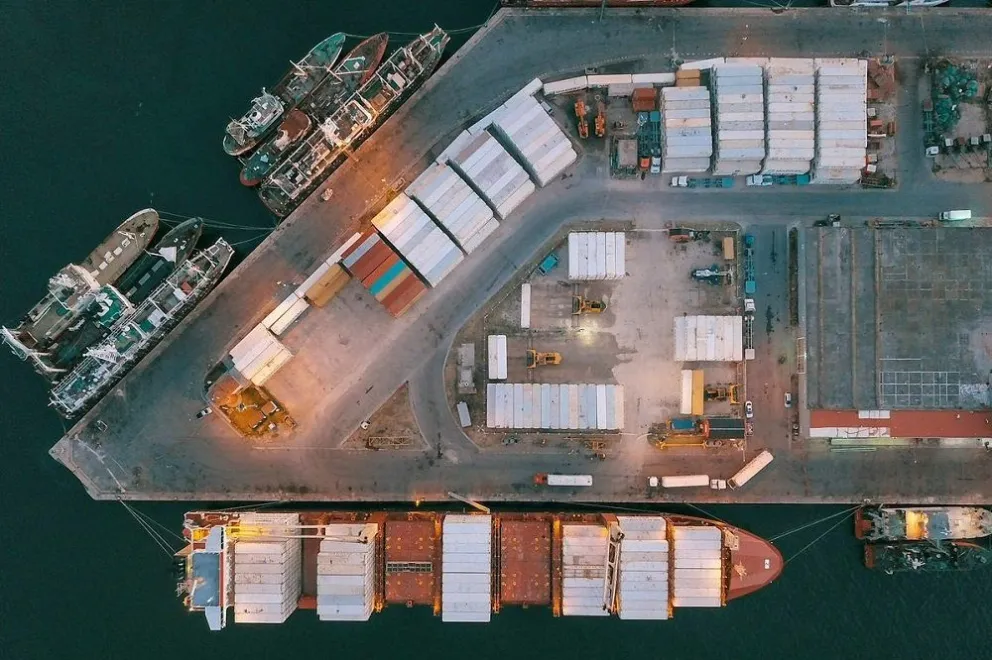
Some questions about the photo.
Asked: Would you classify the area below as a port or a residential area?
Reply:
port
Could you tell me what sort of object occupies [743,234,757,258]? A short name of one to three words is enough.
vehicle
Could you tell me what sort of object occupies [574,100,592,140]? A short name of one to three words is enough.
work vehicle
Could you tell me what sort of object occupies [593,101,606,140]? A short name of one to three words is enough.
vehicle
